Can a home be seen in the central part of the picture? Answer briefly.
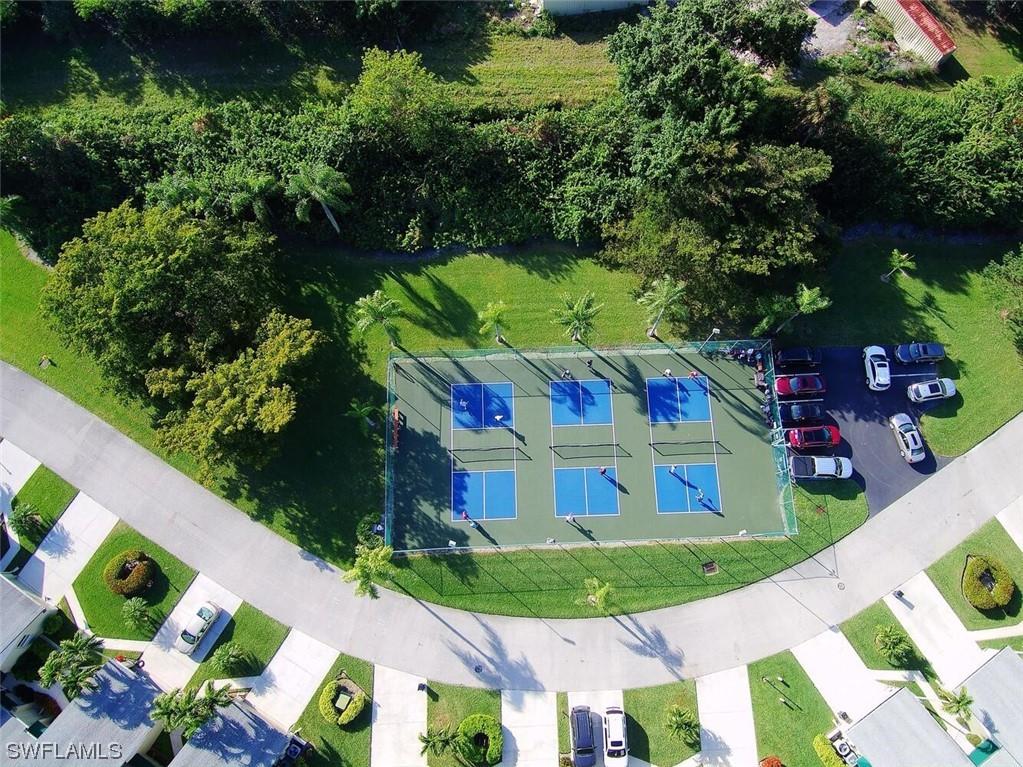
No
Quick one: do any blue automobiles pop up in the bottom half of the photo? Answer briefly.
Yes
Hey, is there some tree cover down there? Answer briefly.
Yes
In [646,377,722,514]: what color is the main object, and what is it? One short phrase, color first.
blue sports court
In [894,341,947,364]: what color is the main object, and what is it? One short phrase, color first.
blue car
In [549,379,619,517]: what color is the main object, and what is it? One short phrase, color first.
blue sports court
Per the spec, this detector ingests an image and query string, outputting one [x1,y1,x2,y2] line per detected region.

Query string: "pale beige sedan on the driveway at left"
[177,599,222,655]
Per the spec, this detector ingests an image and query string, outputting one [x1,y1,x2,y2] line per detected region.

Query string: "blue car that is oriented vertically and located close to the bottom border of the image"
[570,705,599,767]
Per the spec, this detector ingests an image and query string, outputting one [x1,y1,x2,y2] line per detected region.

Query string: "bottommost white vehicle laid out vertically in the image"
[602,706,630,767]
